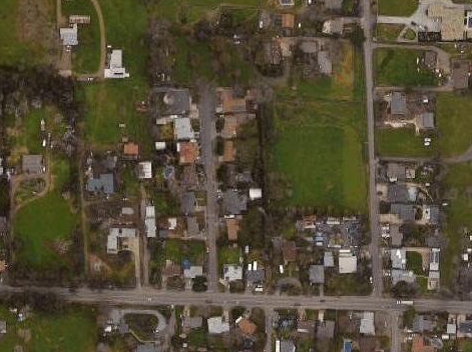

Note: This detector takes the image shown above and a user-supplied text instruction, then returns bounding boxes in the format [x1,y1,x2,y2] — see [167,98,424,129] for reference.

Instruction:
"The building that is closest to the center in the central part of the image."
[226,166,252,184]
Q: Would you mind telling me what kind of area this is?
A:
residential area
